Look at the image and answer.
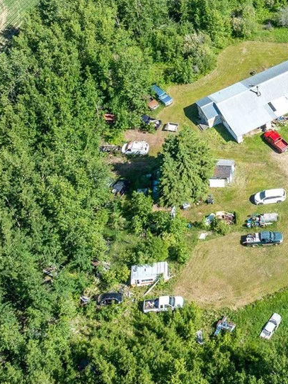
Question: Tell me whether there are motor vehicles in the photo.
Yes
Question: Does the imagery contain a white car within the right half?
Yes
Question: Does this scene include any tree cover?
Yes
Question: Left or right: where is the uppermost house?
right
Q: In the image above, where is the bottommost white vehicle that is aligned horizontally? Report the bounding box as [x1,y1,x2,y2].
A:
[142,292,187,313]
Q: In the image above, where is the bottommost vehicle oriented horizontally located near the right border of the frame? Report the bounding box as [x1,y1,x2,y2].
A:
[241,230,285,249]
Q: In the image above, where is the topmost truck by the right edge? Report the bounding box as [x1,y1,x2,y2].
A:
[259,129,288,155]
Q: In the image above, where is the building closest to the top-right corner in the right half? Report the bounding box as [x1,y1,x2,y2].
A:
[196,60,288,146]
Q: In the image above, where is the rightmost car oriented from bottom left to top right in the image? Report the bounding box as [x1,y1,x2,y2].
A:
[254,306,285,337]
